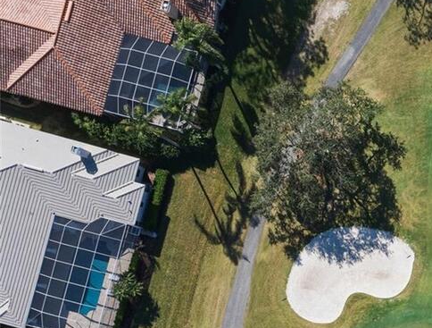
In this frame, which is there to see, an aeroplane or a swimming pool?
swimming pool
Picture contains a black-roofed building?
No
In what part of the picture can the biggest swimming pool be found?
bottom left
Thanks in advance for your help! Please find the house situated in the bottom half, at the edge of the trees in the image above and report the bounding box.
[0,120,151,328]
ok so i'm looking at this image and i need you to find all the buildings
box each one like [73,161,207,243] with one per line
[0,0,237,117]
[0,120,151,328]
